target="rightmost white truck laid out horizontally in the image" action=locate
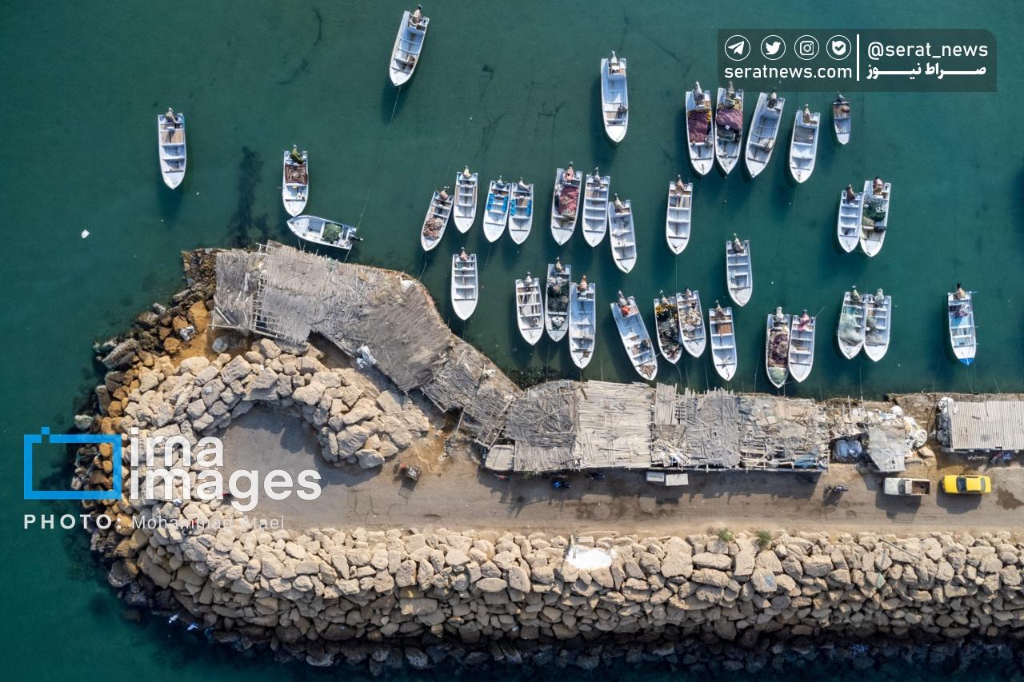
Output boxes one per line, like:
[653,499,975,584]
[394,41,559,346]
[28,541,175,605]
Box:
[883,477,933,499]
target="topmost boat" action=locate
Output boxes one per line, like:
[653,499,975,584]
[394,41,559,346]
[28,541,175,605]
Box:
[390,5,428,88]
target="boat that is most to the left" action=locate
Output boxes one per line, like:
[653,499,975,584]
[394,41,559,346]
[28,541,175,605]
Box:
[158,105,186,190]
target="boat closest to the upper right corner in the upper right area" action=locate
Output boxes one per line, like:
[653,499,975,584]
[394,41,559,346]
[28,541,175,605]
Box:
[832,93,851,146]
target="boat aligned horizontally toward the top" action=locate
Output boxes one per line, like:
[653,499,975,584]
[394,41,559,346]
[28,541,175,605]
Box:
[287,215,361,249]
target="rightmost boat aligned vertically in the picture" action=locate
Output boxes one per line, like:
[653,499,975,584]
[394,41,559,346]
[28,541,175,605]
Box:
[945,284,978,365]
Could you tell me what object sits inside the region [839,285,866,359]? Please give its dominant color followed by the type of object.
white boat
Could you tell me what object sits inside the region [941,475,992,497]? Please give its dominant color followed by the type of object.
yellow car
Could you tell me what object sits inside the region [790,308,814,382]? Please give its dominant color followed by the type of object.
white boat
